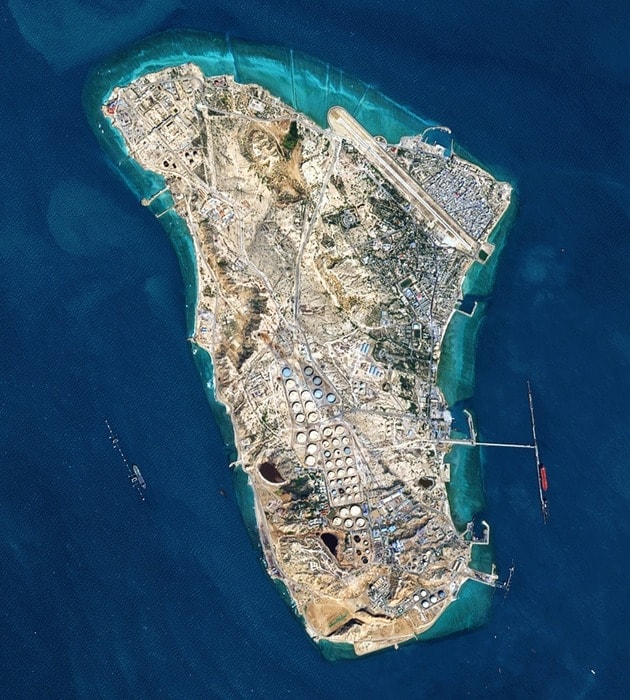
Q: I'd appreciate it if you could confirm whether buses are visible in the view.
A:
No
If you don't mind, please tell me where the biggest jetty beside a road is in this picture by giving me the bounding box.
[449,381,547,522]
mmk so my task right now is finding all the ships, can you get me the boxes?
[133,465,146,489]
[541,466,547,491]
